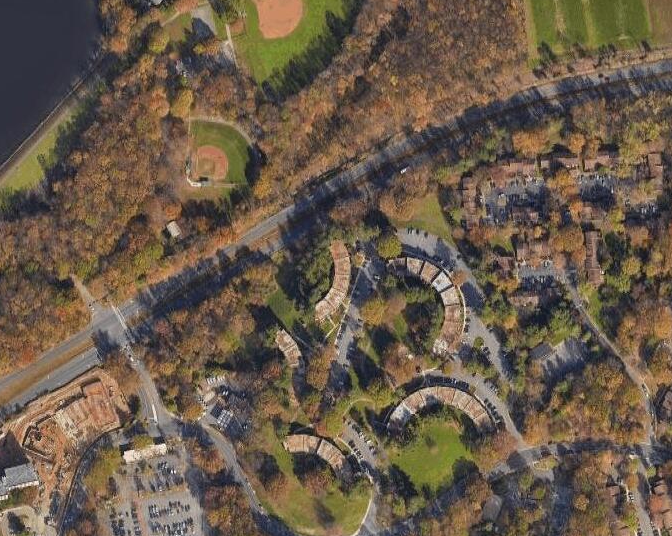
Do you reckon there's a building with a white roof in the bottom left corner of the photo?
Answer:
Yes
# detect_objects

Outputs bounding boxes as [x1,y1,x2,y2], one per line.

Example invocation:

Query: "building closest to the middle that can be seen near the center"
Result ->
[315,238,352,327]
